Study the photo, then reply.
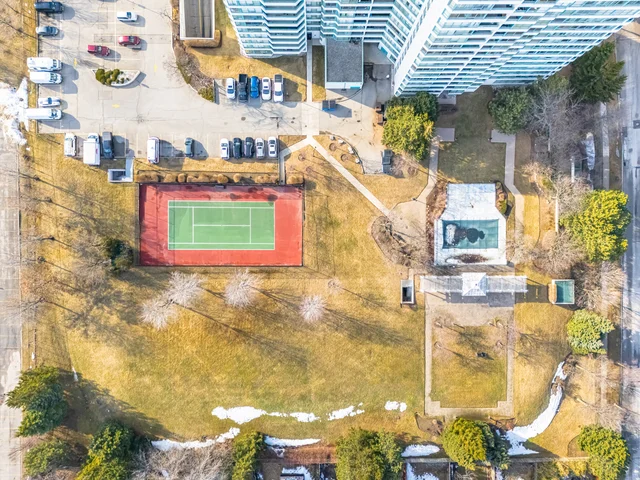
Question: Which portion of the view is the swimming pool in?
right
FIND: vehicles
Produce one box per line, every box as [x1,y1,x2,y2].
[27,59,66,73]
[272,74,284,102]
[238,74,249,102]
[30,72,66,86]
[118,36,141,47]
[261,78,271,101]
[232,138,243,159]
[64,134,78,158]
[34,1,65,15]
[82,134,99,166]
[87,45,112,56]
[26,108,66,121]
[244,138,254,159]
[268,137,277,158]
[37,26,60,37]
[148,138,160,164]
[249,76,260,99]
[226,78,236,99]
[255,138,265,159]
[184,138,194,157]
[39,96,62,107]
[220,138,230,161]
[101,132,114,160]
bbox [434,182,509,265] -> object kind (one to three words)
swimming pool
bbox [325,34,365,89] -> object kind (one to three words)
building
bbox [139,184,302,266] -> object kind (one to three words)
tennis court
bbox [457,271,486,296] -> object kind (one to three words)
gazebo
